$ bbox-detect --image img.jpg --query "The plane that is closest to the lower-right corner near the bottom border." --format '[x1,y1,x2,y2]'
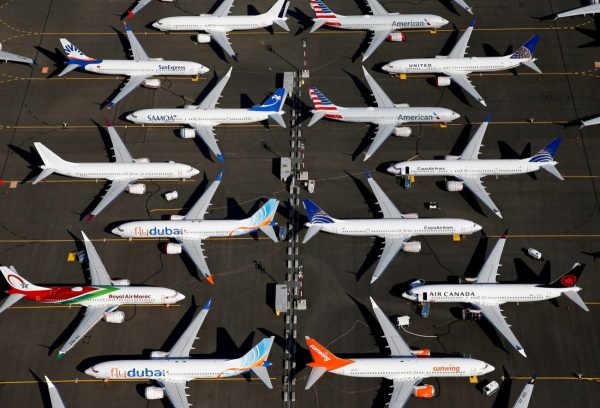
[515,373,536,408]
